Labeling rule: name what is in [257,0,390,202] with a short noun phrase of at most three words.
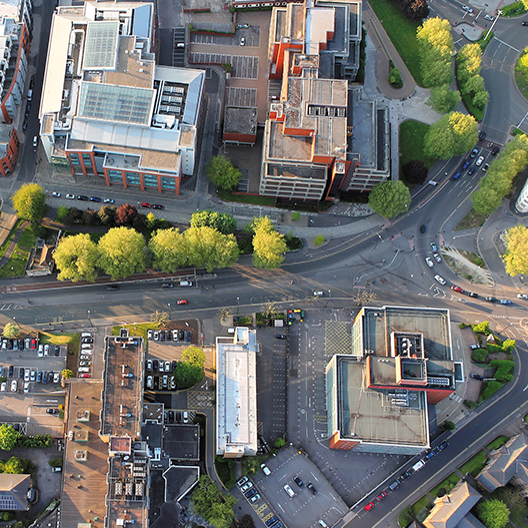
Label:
building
